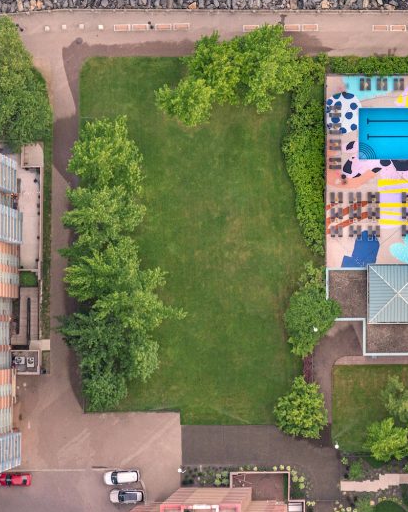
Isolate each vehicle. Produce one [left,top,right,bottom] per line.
[104,470,138,486]
[0,473,31,487]
[110,489,143,504]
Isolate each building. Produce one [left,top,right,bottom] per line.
[128,488,288,512]
[327,264,408,355]
[0,154,25,478]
